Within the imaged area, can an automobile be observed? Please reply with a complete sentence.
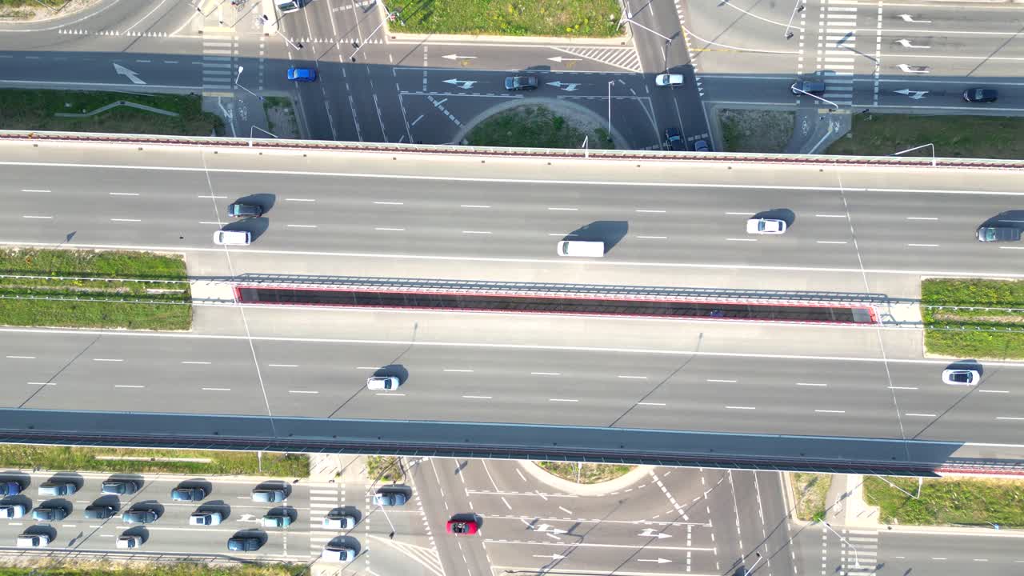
Yes, an automobile appears in the view.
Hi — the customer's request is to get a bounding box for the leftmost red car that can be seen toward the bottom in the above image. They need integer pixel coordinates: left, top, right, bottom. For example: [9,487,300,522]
[447,519,477,536]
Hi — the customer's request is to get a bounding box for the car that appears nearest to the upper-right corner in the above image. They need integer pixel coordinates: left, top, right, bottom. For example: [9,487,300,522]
[961,87,998,103]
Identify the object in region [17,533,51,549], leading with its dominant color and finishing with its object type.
white car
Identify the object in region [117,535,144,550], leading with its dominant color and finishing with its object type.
white car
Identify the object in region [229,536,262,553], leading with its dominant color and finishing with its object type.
blue car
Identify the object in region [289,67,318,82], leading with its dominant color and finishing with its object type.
blue car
